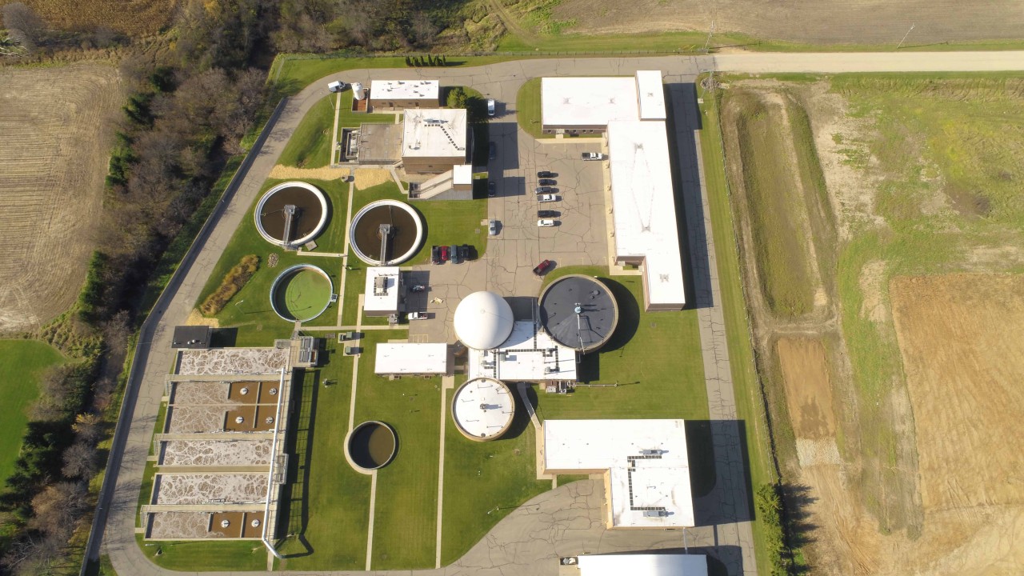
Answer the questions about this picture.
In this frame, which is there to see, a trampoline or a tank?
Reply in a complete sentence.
This aerial view contains a tank.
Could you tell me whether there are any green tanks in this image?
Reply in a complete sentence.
Yes, looking at the shot, I can spot a green tank.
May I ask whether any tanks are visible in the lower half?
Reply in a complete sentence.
Yes, looking in the lower half, one can make out a tank.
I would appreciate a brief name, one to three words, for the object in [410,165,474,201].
building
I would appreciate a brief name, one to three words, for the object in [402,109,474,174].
building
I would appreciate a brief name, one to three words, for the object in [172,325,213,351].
shed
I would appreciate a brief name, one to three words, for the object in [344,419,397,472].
storage tank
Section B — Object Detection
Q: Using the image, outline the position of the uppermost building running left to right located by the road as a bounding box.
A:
[370,80,440,108]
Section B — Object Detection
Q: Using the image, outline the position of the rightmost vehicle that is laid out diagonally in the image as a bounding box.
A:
[531,257,554,276]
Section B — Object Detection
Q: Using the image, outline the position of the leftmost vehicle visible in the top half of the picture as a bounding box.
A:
[324,79,347,92]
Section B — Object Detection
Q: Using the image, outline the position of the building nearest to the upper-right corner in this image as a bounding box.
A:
[541,70,685,313]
